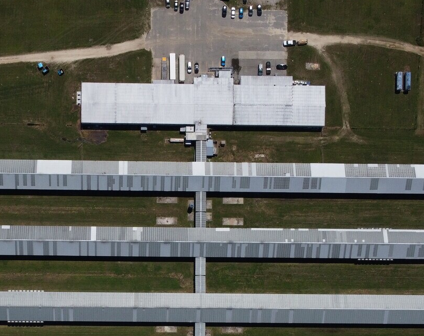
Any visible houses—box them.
[0,225,424,261]
[78,71,325,157]
[0,159,424,194]
[0,290,424,324]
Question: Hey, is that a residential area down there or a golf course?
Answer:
residential area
